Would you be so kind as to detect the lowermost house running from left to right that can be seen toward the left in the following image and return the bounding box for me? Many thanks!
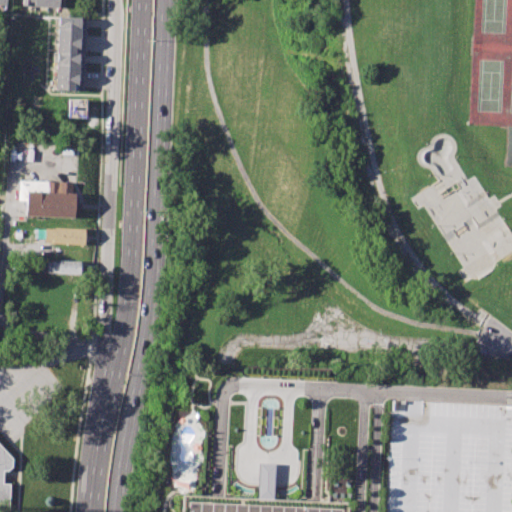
[49,260,82,276]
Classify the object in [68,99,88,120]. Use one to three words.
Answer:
building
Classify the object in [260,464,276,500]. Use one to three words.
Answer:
building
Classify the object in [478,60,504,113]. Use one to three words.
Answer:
tennis court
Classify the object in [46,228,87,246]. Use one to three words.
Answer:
house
